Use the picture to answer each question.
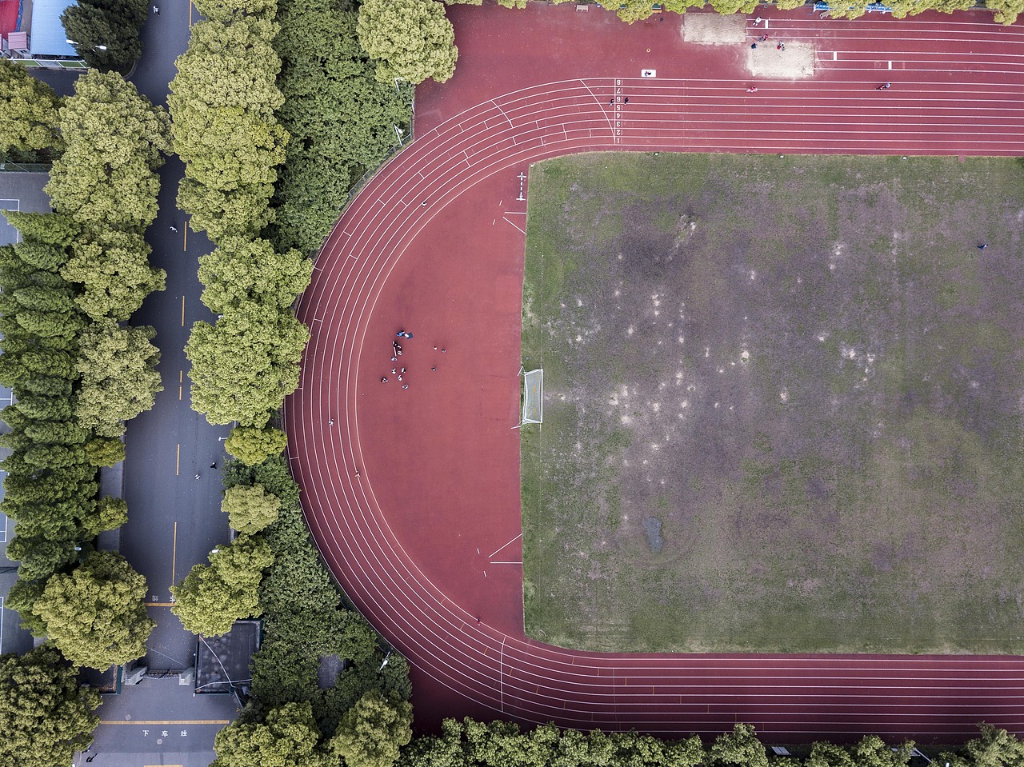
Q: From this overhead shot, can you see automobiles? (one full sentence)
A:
No, the photo shows no automobile.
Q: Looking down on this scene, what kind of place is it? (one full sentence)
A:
This image shows a sports ground.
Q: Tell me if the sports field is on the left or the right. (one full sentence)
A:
The sports field sits on the right side.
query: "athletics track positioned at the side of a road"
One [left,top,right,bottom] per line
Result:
[282,2,1024,743]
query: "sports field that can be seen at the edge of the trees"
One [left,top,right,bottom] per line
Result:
[521,150,1024,654]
